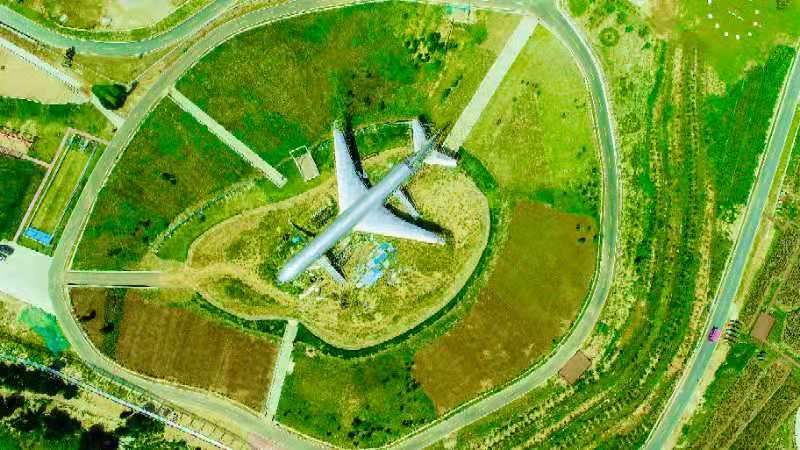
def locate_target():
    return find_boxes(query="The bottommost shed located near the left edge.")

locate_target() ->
[20,227,52,246]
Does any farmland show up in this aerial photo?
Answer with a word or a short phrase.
Yes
